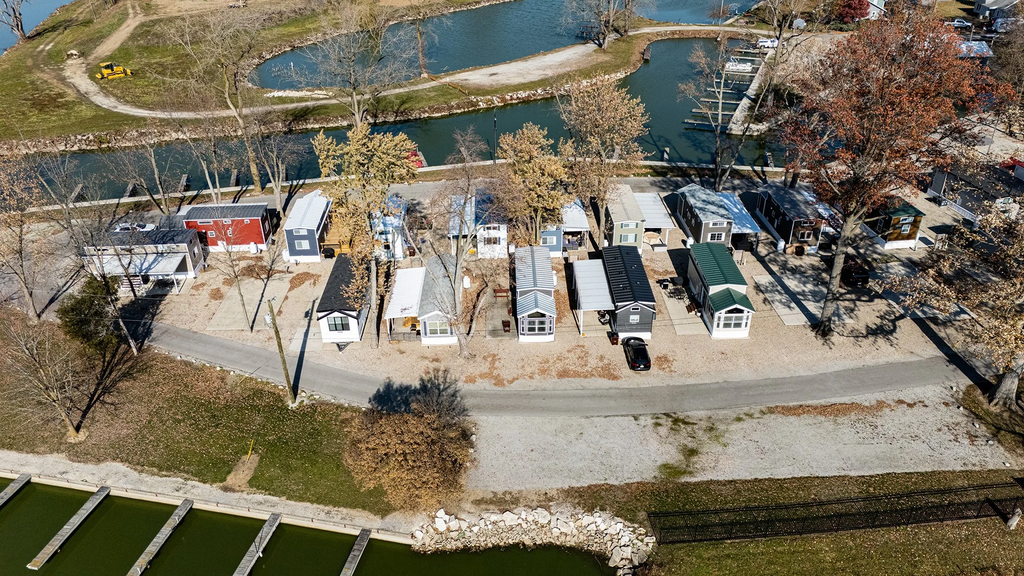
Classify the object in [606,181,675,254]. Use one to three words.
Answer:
house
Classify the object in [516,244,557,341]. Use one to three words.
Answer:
house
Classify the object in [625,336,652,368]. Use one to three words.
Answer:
car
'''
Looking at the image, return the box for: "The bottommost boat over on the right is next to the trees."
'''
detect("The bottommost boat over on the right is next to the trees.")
[725,58,754,72]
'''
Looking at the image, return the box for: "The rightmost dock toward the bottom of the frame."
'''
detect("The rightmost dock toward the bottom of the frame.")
[337,535,372,576]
